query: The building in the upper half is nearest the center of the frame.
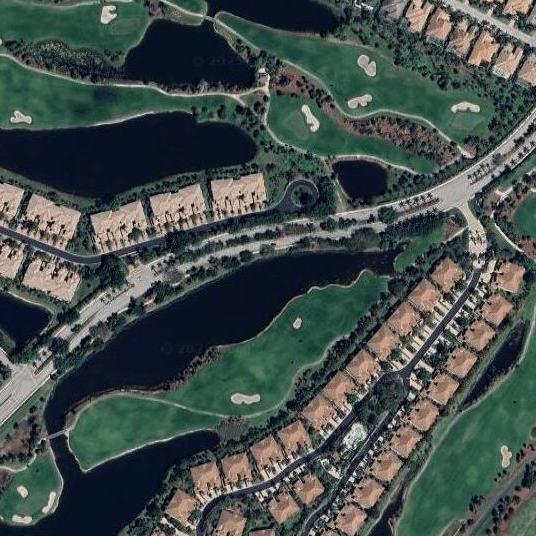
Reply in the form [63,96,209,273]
[209,171,268,219]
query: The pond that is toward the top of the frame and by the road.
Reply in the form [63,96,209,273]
[332,159,389,198]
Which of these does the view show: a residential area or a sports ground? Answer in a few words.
residential area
